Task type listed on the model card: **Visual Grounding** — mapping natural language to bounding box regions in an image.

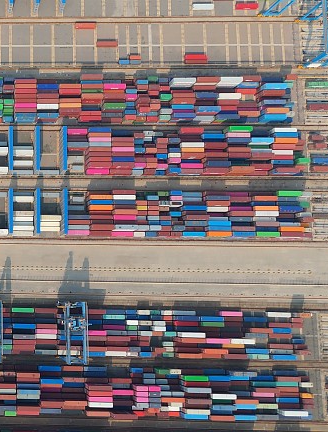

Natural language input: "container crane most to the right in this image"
[292,0,328,68]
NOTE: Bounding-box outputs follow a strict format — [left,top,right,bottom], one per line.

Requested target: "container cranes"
[257,0,299,16]
[0,301,5,364]
[53,301,90,366]
[292,0,328,68]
